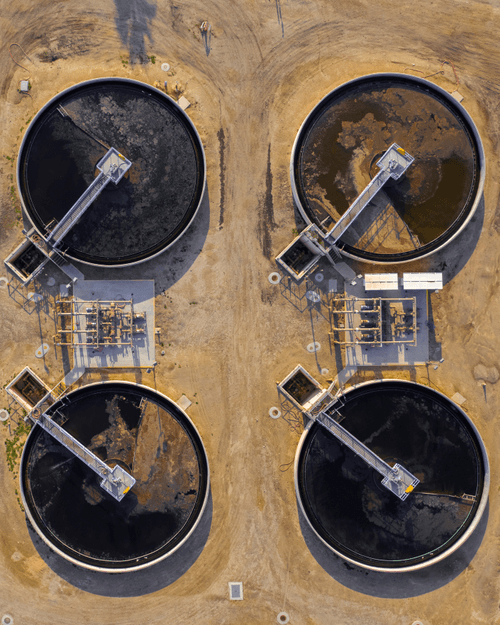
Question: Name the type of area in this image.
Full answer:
The picture captures an industrial area.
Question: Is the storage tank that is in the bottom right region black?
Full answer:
Yes, the storage tank that is in the bottom right region appears black.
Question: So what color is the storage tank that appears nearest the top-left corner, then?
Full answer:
The storage tank that appears nearest the top-left corner looks black in the image.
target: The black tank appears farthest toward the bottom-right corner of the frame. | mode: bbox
[296,378,490,571]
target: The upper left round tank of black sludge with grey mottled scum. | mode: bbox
[16,76,209,269]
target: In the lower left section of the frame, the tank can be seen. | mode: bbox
[20,381,212,574]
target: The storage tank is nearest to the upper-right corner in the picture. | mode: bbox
[292,72,485,265]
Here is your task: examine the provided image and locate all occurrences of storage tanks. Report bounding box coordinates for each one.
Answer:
[16,76,209,269]
[296,378,490,571]
[20,381,212,574]
[292,72,485,265]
